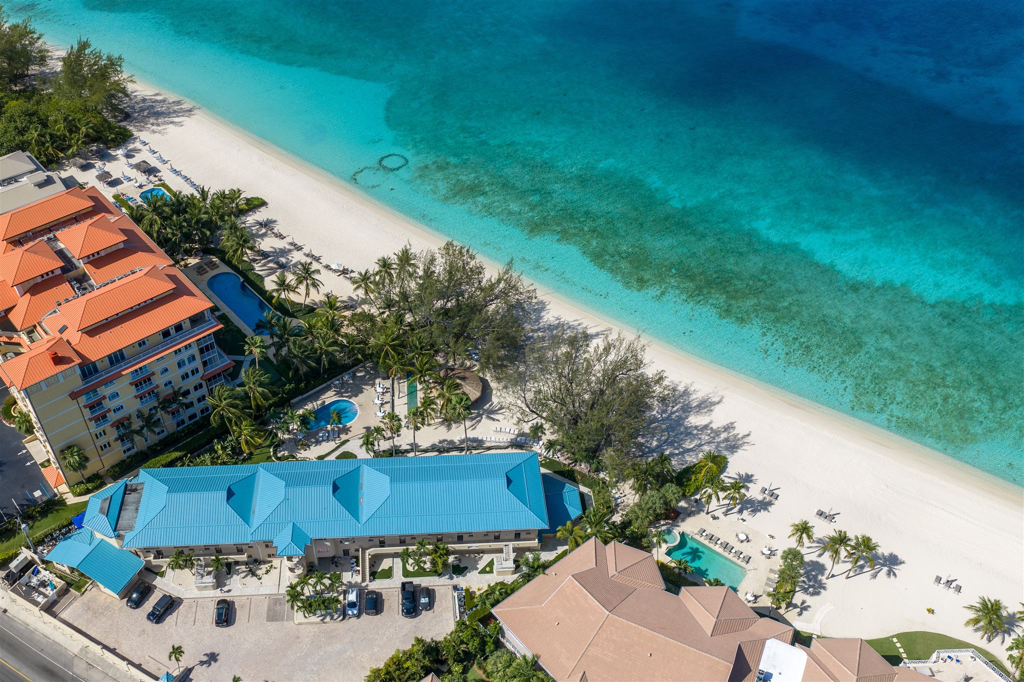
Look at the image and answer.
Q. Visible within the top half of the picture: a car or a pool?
pool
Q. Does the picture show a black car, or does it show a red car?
black car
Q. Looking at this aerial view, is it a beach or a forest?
beach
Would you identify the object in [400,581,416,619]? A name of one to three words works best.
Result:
vehicle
